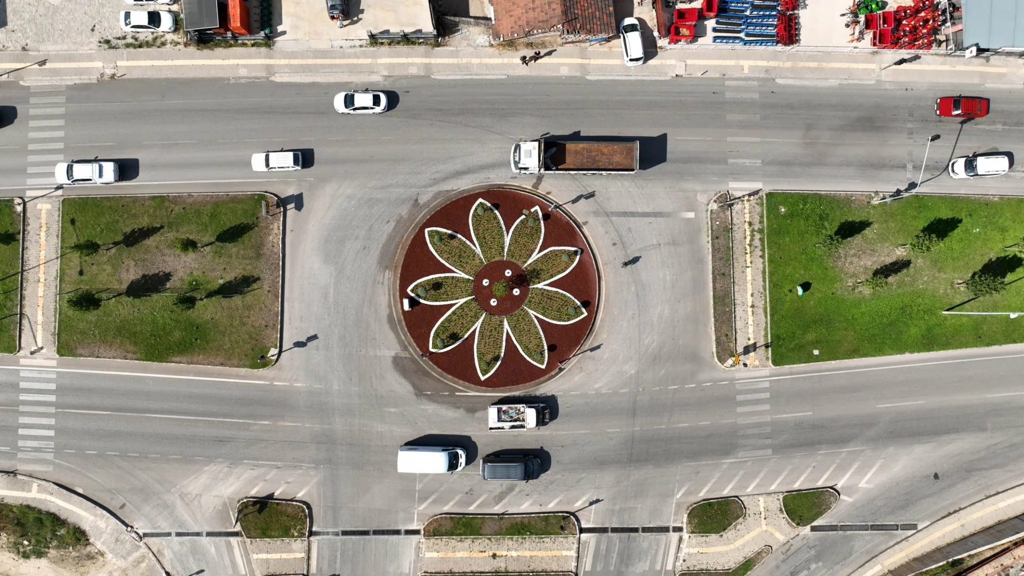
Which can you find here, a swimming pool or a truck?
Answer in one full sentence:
Looking from above, you can make out a truck.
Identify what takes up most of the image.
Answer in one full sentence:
What you mostly see from above here is paved ground.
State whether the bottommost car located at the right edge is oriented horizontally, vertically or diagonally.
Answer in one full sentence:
The bottommost car located at the right edge is laid out horizontally.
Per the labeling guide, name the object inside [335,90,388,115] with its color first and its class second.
white car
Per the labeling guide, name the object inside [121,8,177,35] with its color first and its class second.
white car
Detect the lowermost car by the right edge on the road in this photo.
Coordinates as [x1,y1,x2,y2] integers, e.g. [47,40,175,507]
[948,153,1011,180]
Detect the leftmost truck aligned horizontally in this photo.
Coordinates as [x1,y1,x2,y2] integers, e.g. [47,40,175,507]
[57,161,122,186]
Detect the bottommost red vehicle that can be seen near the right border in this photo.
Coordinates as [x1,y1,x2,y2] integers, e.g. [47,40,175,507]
[934,95,989,119]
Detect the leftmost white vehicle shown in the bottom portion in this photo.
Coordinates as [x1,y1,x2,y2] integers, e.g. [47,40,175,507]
[398,443,466,474]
